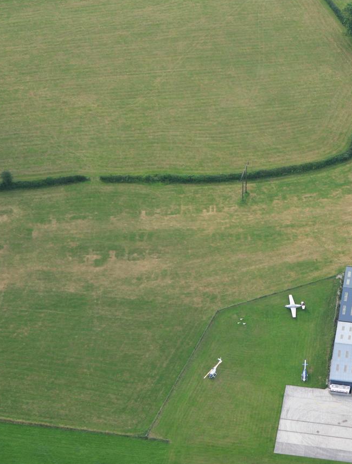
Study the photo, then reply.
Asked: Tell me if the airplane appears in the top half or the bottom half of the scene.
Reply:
bottom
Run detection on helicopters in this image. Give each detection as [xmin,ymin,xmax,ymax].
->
[301,359,308,382]
[208,358,222,380]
